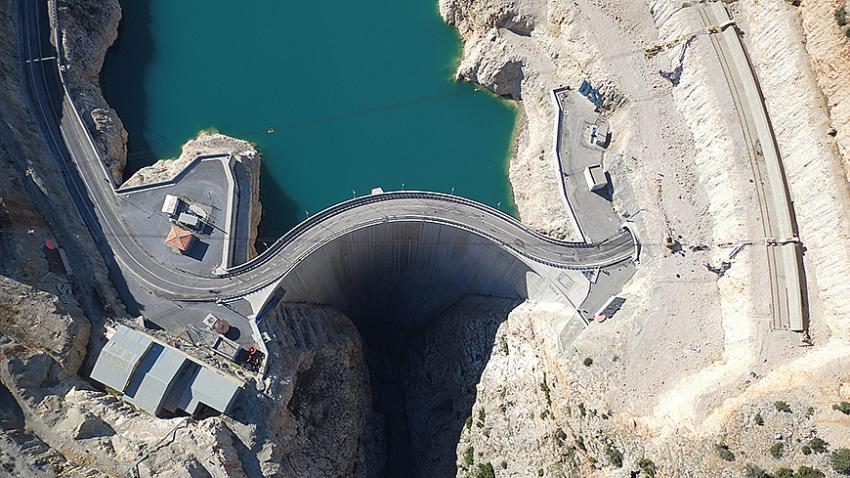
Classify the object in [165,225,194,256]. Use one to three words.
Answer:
house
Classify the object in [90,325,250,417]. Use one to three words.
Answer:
building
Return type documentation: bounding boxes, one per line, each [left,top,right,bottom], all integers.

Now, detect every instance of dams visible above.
[227,188,633,334]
